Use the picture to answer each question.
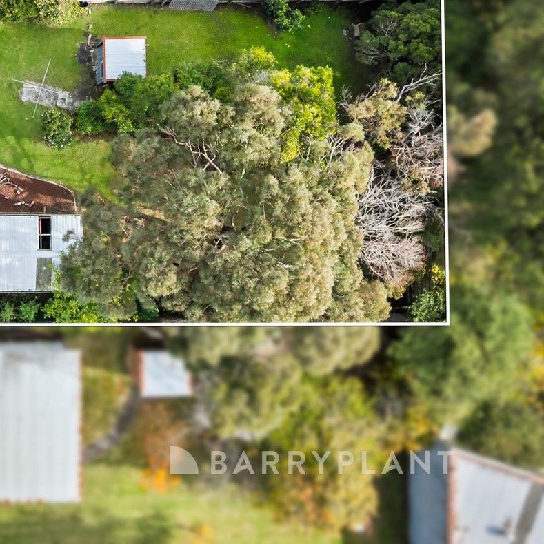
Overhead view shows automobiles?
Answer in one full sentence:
No, this view has no automobile in it.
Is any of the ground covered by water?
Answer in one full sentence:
No, no water is visible.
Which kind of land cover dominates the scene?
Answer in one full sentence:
The scene is dominated by trees.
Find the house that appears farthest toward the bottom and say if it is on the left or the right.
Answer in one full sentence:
The house that appears farthest toward the bottom sits on the right side.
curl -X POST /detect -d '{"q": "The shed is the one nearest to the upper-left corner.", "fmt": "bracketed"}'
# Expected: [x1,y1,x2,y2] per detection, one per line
[97,36,149,85]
